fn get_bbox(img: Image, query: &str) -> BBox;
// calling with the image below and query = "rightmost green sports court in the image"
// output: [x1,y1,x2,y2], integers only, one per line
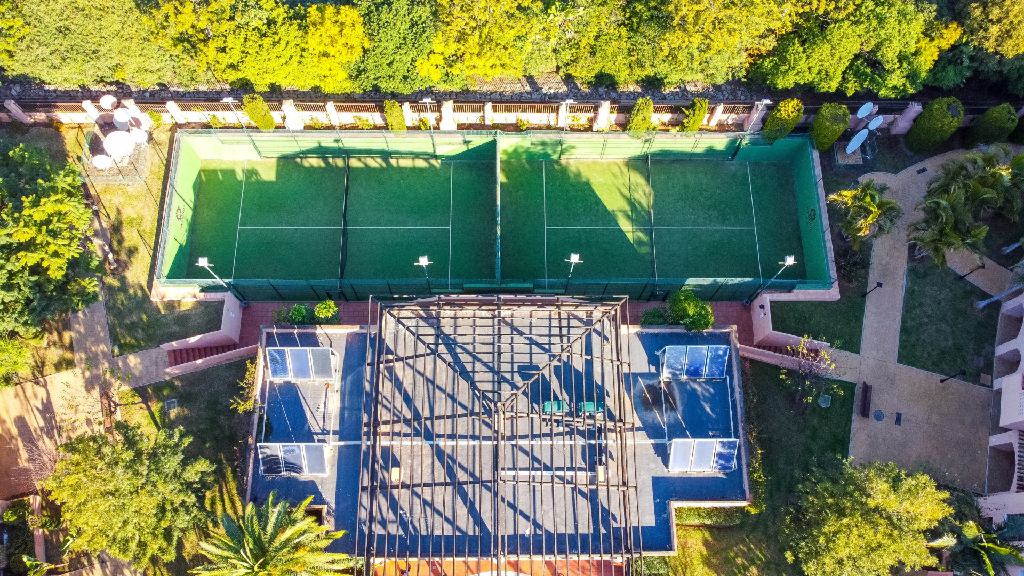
[500,130,837,302]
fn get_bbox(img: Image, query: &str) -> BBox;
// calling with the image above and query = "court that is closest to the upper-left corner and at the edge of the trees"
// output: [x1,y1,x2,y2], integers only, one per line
[154,128,497,303]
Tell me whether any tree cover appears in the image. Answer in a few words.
Yes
